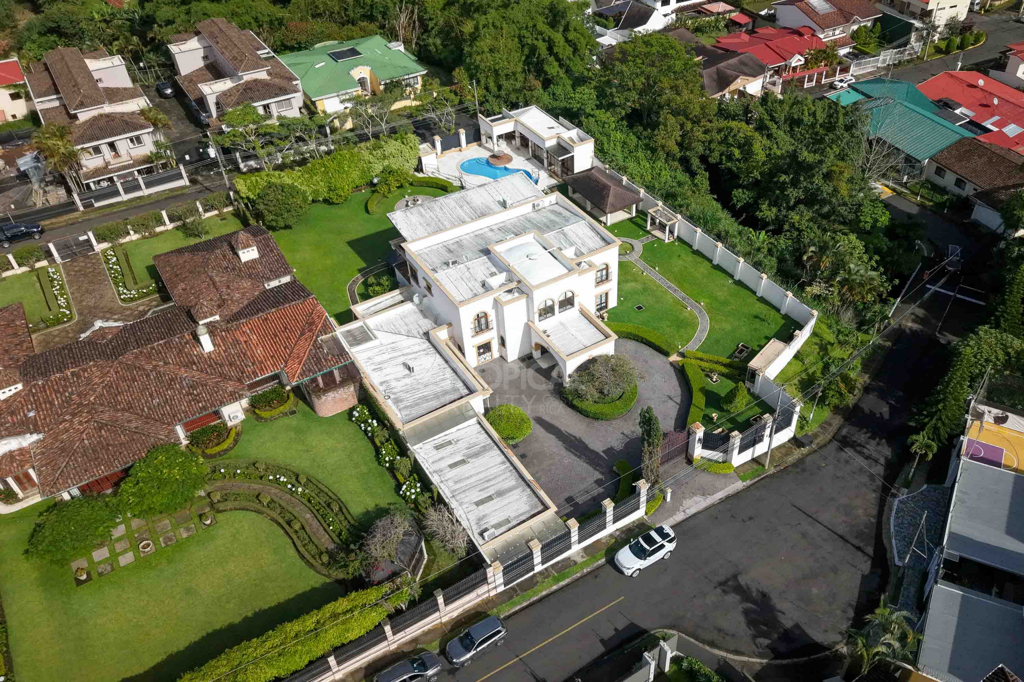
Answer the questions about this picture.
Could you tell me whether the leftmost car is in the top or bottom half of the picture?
top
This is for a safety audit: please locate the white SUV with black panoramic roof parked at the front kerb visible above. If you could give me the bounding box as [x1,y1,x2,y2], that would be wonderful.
[611,526,679,577]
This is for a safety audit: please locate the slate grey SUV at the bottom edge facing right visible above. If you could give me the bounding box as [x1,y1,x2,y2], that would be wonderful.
[361,652,433,682]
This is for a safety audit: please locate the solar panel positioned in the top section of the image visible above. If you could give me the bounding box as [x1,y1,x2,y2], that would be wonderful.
[332,45,364,63]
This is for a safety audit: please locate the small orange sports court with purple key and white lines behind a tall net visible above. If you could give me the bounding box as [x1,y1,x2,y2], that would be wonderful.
[962,366,1024,477]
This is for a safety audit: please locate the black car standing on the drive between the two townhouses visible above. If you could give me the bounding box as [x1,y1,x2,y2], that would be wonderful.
[151,78,167,97]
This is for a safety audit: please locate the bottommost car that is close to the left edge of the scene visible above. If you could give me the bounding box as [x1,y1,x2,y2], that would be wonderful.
[0,224,42,246]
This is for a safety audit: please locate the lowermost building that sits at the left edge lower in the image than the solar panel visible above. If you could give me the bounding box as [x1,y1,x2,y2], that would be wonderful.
[0,221,356,523]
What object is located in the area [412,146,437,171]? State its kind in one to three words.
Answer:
shed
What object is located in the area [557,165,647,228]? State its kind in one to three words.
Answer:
building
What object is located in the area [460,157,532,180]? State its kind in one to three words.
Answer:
swimming pool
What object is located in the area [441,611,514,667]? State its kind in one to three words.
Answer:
car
